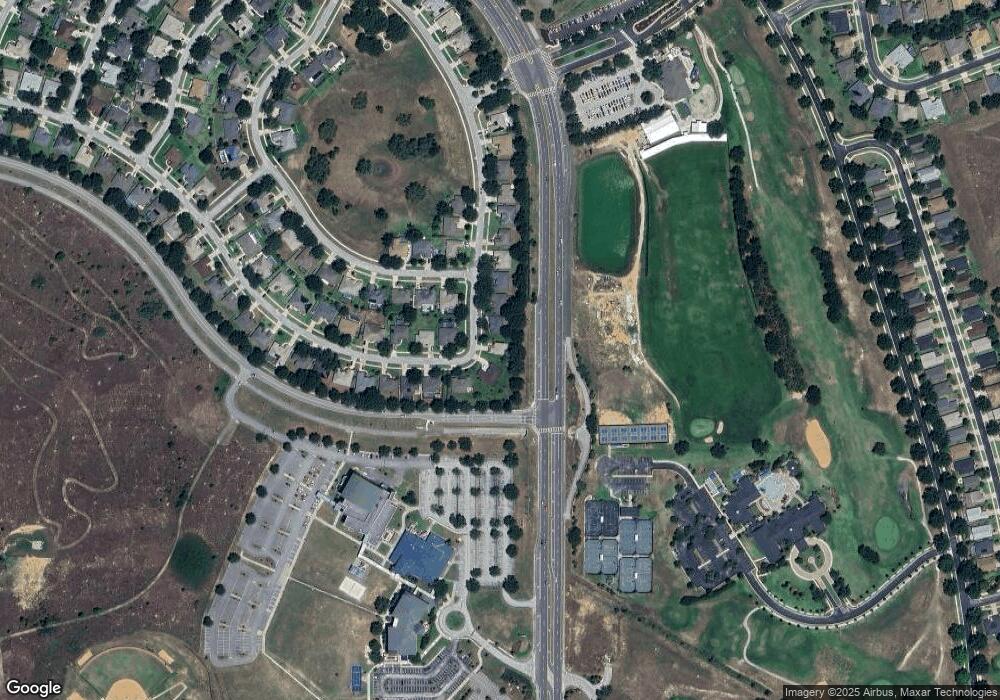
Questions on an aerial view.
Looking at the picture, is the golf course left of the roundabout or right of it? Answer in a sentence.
Relative to the roundabout, the golf course lies to the right.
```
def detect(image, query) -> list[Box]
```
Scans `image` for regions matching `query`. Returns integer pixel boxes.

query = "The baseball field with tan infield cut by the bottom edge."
[80,645,187,700]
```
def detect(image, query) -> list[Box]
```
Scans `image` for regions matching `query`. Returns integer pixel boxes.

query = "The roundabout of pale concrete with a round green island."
[437,599,475,639]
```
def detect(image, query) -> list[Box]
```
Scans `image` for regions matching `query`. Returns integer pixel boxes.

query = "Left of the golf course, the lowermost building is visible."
[385,592,435,663]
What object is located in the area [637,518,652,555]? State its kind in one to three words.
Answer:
tennis court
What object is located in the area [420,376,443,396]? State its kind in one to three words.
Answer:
house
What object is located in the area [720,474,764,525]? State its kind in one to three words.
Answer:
building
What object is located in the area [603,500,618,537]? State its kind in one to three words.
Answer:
tennis court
